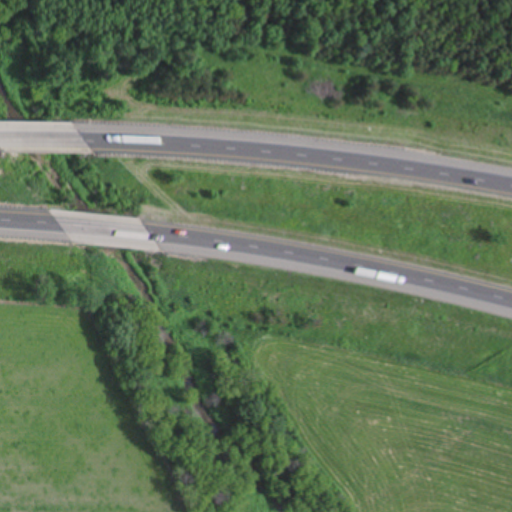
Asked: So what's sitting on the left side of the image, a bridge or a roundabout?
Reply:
bridge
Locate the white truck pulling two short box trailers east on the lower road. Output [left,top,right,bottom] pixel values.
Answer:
[355,266,407,285]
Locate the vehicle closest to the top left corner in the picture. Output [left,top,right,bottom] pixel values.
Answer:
[106,132,162,144]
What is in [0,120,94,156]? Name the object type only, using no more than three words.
bridge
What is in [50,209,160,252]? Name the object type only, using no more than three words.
bridge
